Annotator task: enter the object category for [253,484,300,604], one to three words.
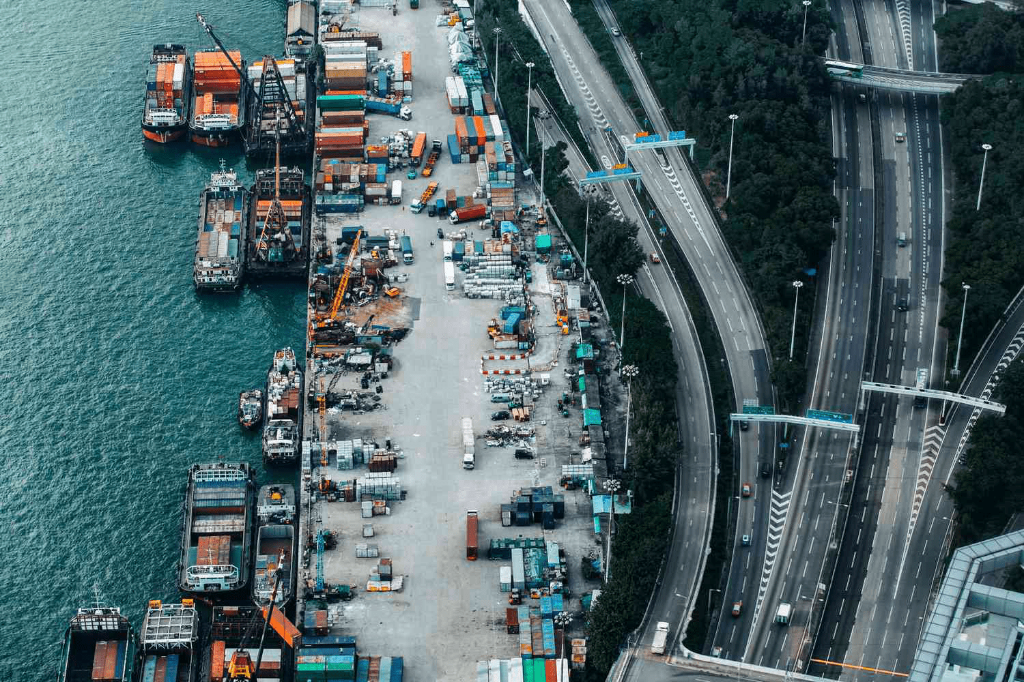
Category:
ship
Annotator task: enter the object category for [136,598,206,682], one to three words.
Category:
ship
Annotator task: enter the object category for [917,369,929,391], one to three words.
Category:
vehicle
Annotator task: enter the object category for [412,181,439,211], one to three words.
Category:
truck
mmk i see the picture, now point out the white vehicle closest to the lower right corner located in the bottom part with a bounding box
[777,597,793,623]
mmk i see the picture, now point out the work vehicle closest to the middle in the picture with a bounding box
[482,319,502,336]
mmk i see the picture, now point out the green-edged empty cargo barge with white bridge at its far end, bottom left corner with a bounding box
[47,569,144,682]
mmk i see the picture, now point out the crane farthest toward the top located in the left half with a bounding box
[314,229,363,328]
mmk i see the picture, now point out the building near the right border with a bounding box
[906,528,1024,682]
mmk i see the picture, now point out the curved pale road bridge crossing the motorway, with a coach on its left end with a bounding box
[806,51,1023,109]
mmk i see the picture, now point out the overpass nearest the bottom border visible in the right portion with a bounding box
[607,639,864,682]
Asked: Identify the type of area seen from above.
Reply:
port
